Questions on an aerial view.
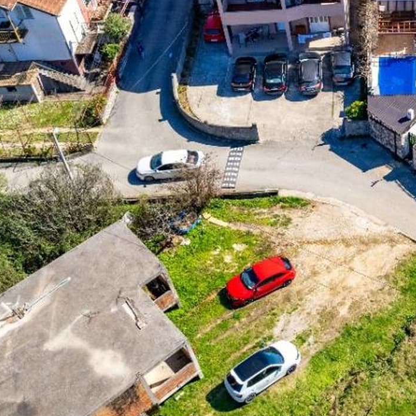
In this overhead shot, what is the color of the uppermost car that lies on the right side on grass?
red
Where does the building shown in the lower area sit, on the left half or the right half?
left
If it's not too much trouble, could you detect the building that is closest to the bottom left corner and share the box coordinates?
[0,221,199,416]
